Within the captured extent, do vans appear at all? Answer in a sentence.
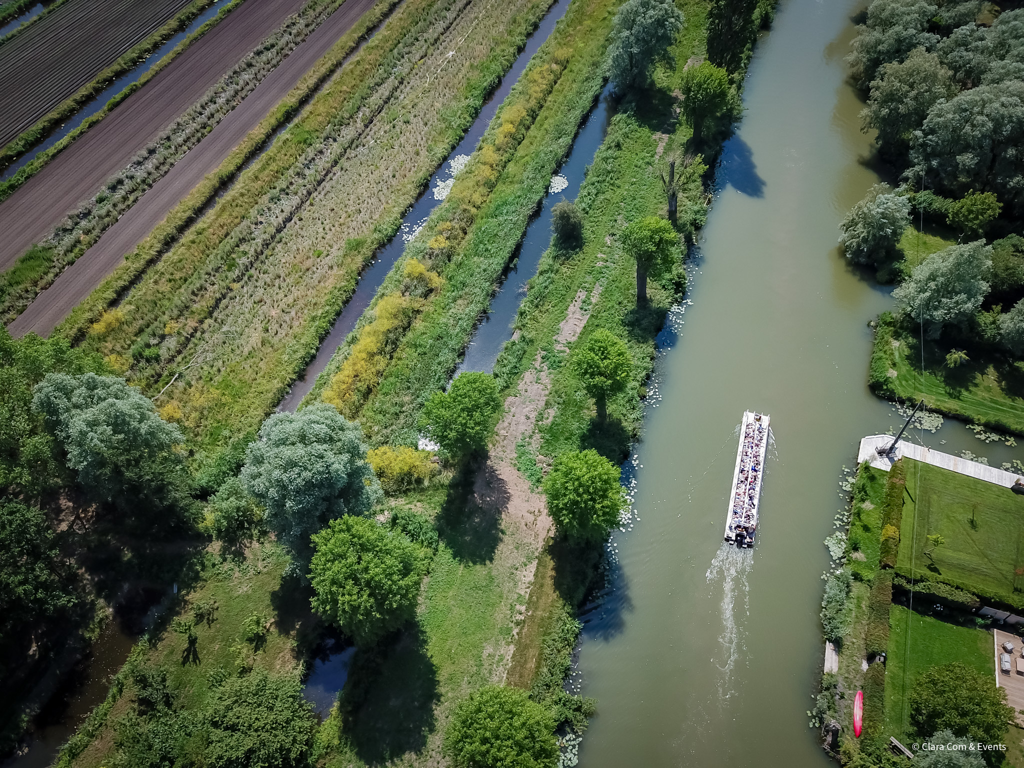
No, I find no van anywhere in the image.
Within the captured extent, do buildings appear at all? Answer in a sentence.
No, there is no building in the image.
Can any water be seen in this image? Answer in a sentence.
Yes, water shows up in the scene.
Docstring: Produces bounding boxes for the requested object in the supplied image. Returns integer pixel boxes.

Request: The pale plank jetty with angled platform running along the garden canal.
[856,433,1024,487]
